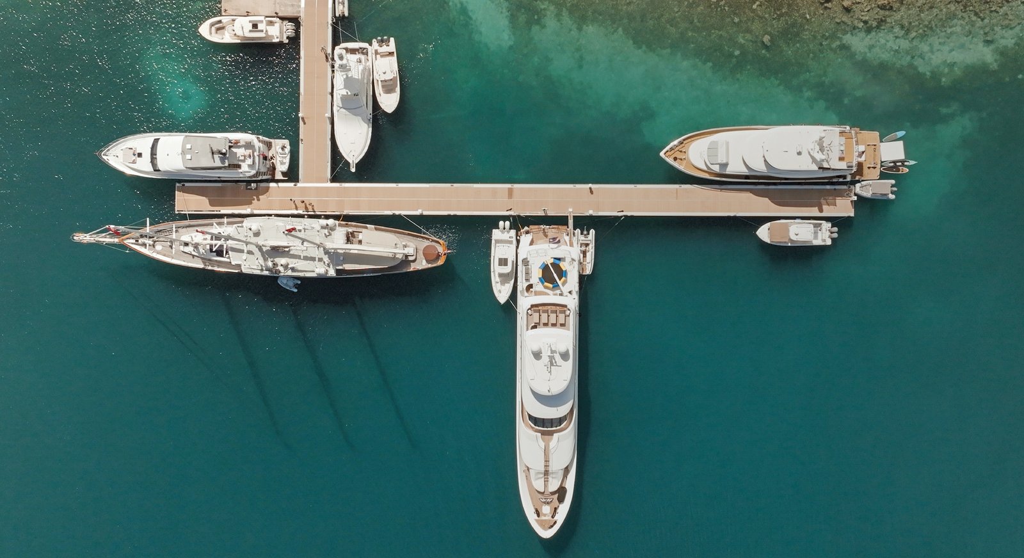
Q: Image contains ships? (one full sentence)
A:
Yes, looking at the shot, I can spot a ship.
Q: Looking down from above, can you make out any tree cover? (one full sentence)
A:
No, no tree cover is visible.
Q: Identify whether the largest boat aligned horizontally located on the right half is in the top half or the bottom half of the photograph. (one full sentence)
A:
It is in the top half that the largest boat aligned horizontally located on the right half appears.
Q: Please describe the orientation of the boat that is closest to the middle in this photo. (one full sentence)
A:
In this picture, the boat that is closest to the middle lies from top to bottom.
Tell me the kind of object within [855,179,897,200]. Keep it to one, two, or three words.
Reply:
boat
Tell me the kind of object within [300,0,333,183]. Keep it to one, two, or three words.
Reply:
pier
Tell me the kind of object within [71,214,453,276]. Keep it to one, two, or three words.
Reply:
ship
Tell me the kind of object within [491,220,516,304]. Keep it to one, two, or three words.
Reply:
boat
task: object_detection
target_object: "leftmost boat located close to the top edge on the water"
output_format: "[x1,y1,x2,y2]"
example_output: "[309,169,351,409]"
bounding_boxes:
[199,16,296,44]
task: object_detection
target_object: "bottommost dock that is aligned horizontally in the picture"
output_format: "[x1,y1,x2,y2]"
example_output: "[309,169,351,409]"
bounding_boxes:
[175,183,854,217]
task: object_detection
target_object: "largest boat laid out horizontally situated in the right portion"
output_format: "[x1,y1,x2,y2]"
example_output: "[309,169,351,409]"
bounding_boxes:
[660,124,881,183]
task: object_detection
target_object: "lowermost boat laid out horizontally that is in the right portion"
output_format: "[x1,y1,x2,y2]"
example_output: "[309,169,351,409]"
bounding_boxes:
[755,220,838,246]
